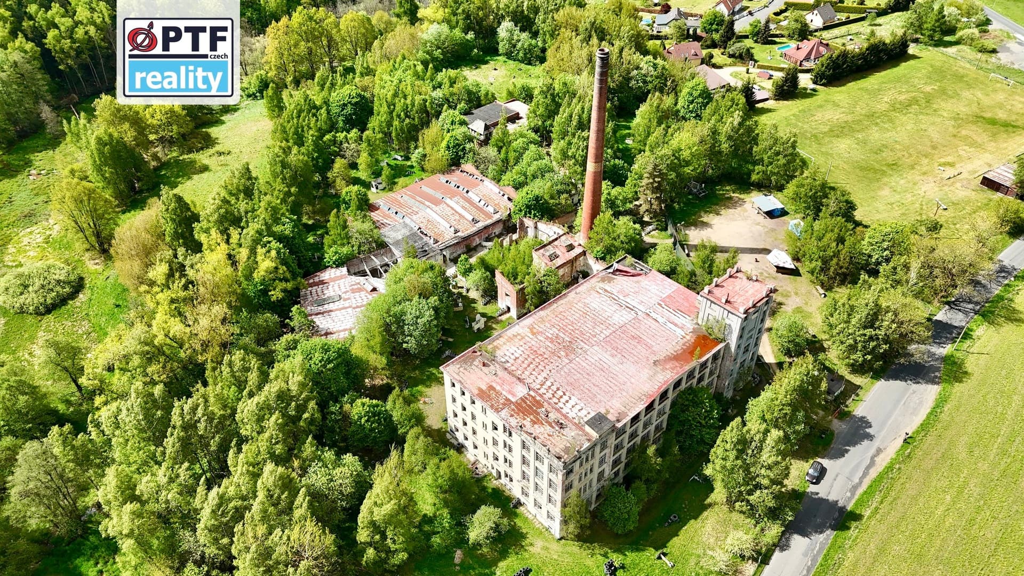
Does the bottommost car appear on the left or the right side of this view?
right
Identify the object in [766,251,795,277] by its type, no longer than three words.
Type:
shed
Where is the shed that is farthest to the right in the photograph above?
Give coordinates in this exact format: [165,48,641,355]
[976,163,1023,196]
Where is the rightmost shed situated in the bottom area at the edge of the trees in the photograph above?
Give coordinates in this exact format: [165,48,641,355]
[822,365,860,400]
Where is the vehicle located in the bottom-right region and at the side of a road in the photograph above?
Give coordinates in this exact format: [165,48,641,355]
[805,459,825,484]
